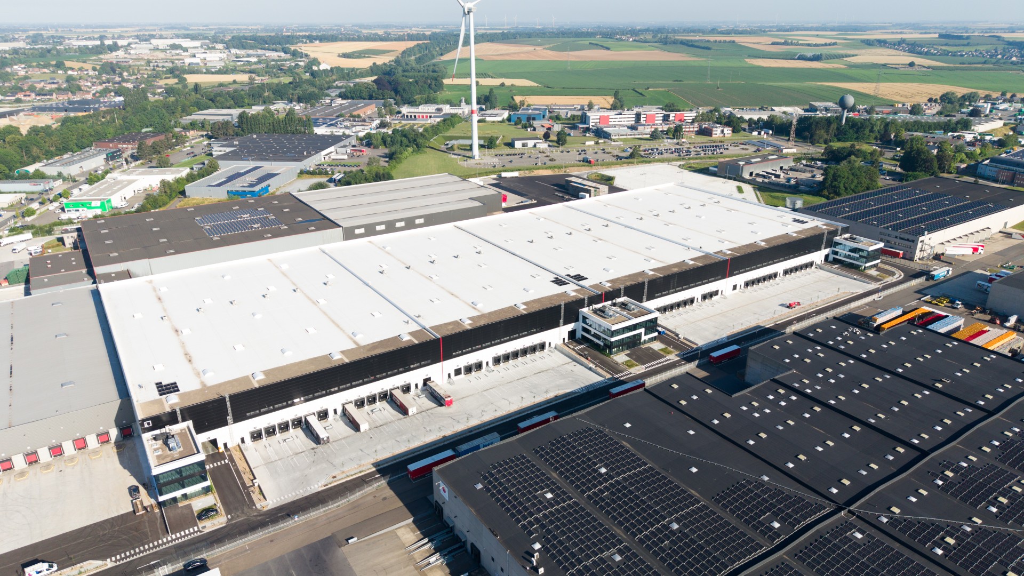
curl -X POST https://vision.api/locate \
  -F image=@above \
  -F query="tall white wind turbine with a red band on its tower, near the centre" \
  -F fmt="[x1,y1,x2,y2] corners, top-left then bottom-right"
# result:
[458,0,490,160]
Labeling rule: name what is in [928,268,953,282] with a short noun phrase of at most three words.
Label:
vehicle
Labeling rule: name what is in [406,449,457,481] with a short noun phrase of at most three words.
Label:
trailer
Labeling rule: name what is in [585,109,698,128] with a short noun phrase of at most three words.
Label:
building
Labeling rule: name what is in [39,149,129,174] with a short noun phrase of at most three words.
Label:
shed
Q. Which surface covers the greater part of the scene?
buildings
